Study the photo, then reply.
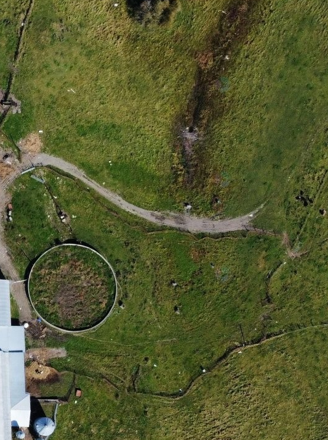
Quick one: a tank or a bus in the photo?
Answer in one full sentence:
Visible in the photo is a tank.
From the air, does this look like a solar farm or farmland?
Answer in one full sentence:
The area seen from above is farmland.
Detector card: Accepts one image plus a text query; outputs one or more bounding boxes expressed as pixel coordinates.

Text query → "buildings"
[0,349,30,440]
[0,279,10,328]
